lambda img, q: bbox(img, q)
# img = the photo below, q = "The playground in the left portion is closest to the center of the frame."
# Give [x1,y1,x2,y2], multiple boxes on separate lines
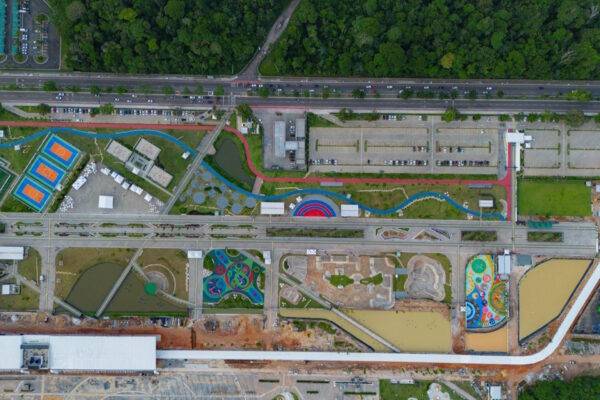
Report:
[203,249,266,314]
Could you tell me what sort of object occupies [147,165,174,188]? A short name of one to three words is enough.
building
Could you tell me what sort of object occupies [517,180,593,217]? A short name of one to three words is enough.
sports field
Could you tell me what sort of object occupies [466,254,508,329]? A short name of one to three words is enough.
playground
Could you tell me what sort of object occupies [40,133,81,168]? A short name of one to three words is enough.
sports court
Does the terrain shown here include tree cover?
Yes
